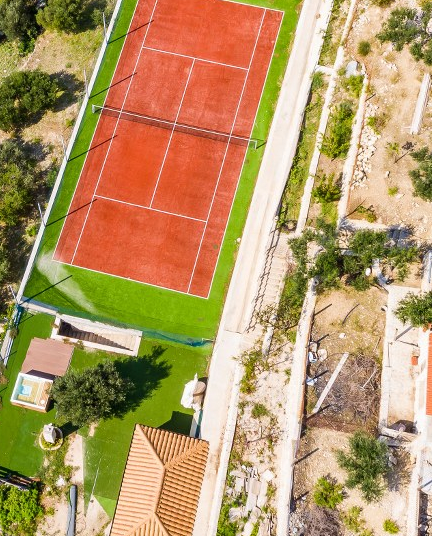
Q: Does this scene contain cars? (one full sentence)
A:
No, the photo shows no car.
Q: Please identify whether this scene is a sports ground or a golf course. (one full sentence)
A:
What you see here is a sports ground.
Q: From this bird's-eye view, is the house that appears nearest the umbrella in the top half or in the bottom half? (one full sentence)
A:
The bottom half of the photo is where the house that appears nearest the umbrella is.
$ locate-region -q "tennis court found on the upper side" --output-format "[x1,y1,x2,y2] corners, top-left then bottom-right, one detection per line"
[26,0,300,347]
